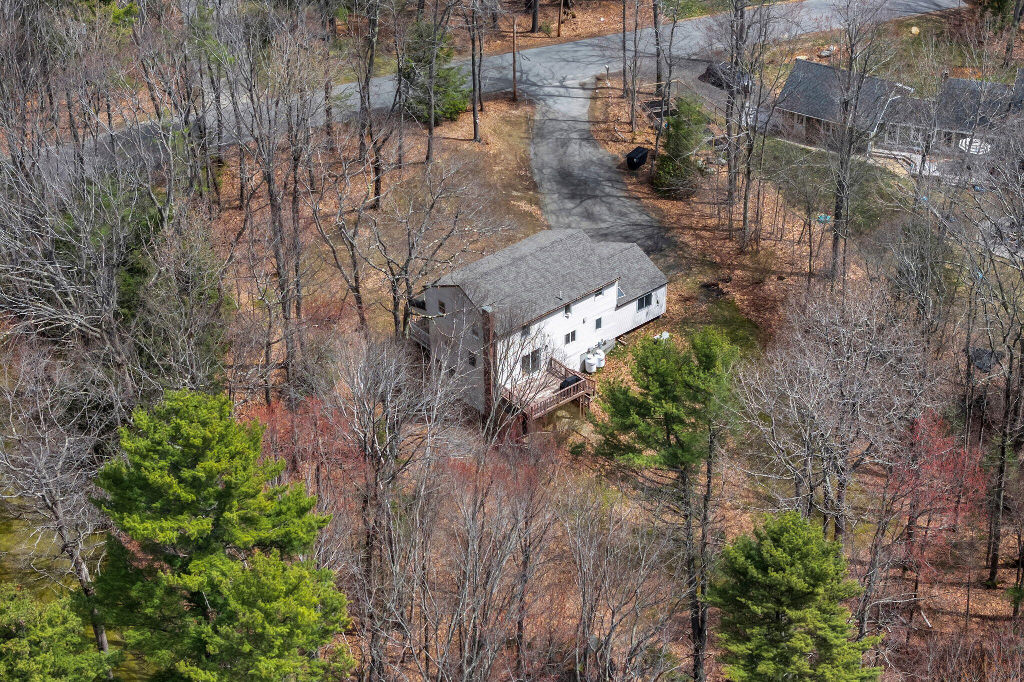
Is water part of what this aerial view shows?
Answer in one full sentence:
No, there's no water in this view.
